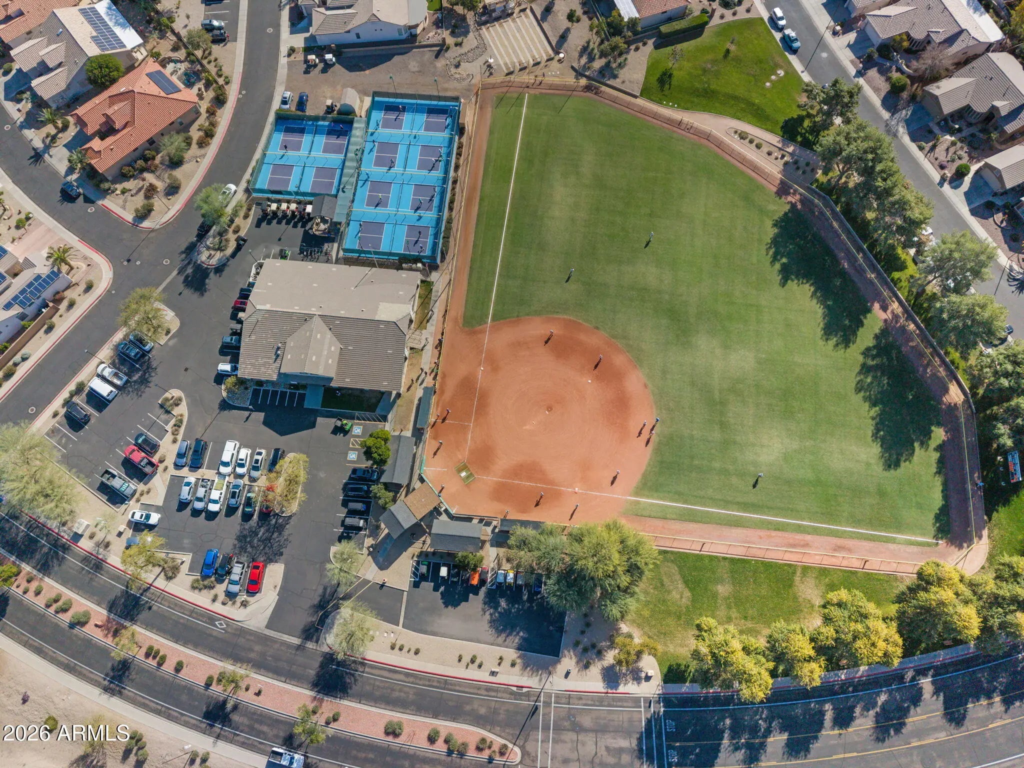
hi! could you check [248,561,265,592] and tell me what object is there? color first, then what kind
red car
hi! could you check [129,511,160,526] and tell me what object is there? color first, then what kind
white car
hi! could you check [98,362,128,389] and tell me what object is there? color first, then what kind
white truck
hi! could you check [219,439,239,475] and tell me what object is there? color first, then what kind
white vehicle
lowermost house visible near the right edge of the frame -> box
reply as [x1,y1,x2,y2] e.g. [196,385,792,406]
[976,144,1024,196]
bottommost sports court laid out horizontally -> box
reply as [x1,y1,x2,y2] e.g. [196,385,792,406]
[357,219,431,254]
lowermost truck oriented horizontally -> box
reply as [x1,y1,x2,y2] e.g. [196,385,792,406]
[264,746,306,768]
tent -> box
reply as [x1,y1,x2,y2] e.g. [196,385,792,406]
[335,81,361,115]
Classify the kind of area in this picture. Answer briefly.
sports ground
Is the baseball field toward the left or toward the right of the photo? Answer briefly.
right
